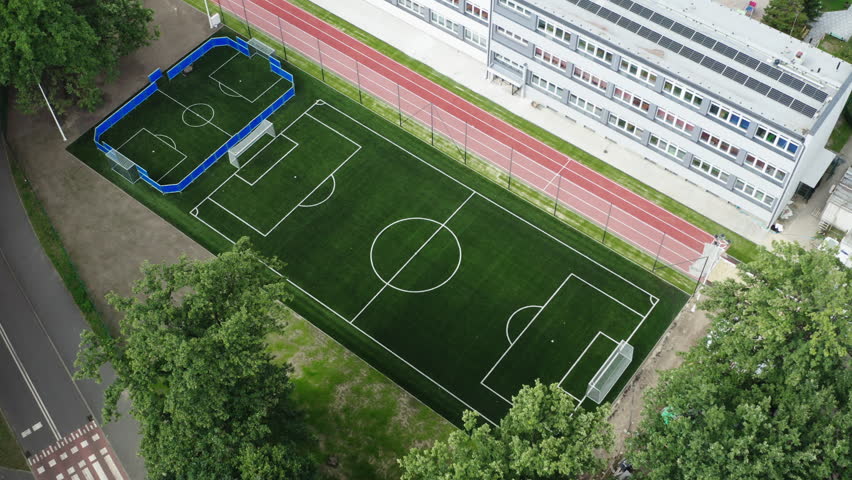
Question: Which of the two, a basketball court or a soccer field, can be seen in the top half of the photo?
soccer field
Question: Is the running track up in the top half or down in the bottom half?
top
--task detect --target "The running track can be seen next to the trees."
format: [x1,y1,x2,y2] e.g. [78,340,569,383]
[210,0,722,280]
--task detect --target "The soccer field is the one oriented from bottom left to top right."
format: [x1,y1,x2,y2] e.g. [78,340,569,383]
[62,24,317,215]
